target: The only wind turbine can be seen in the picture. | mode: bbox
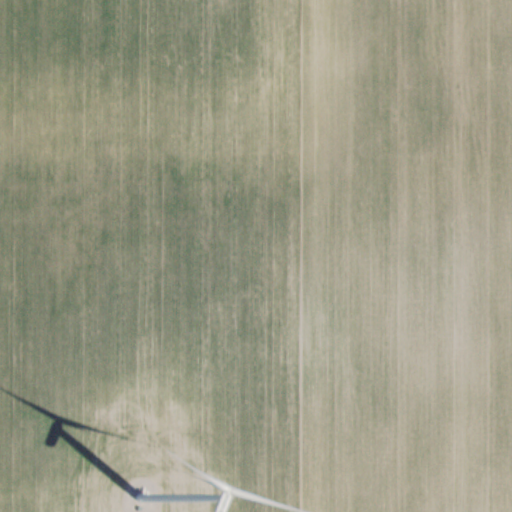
[133,451,305,512]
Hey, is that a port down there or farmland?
farmland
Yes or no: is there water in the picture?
No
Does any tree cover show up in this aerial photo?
No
